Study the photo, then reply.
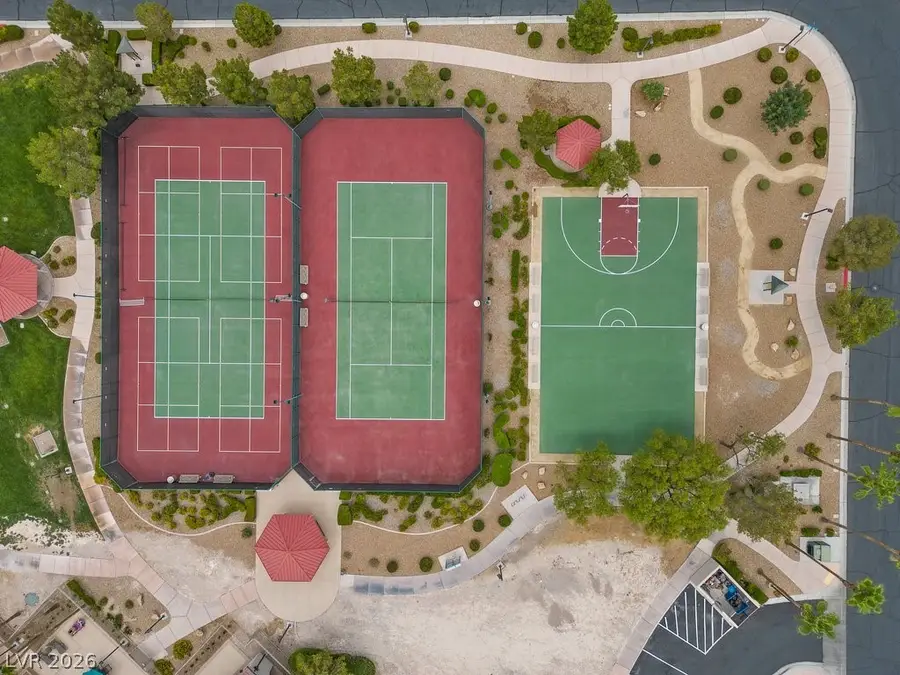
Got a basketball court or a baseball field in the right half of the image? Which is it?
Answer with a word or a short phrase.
basketball court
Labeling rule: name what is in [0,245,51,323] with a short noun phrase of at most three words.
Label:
building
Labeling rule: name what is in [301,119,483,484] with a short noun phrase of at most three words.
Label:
tennis court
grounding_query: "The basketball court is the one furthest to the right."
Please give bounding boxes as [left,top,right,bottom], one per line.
[529,187,709,461]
